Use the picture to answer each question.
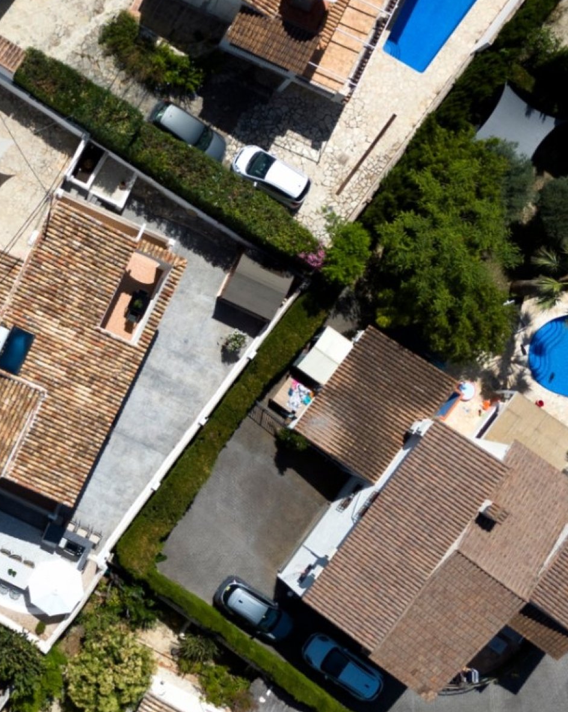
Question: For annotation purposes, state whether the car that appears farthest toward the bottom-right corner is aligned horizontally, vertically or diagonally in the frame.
diagonally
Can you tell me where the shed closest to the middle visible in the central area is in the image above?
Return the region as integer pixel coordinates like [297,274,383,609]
[214,250,293,320]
